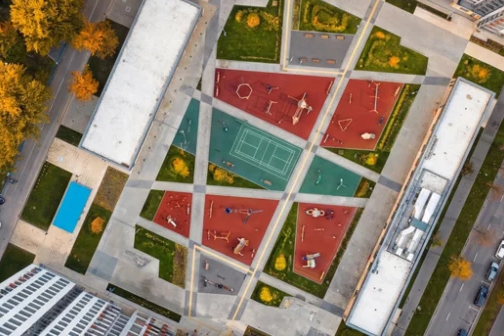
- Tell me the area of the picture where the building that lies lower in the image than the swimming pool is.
bottom left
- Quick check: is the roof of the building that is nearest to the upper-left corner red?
No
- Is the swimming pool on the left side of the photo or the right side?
left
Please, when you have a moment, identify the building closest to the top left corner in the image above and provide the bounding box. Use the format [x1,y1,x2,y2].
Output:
[78,0,201,170]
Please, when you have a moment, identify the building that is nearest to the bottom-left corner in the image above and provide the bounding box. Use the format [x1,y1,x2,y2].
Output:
[0,263,180,336]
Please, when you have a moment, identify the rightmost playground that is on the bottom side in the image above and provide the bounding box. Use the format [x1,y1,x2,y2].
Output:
[293,203,356,284]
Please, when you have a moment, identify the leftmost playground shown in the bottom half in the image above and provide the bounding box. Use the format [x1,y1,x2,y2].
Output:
[153,191,192,238]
